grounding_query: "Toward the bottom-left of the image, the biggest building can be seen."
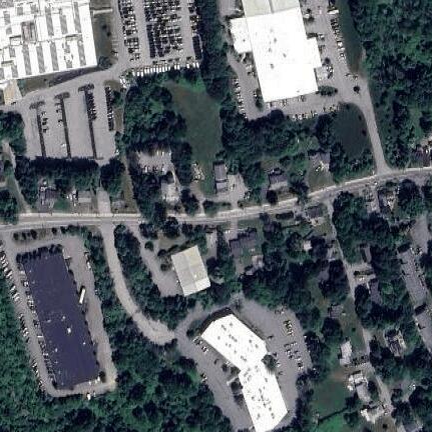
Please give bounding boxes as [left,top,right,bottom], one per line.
[20,248,100,391]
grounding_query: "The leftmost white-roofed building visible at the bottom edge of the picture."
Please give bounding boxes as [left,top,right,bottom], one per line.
[201,314,288,432]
